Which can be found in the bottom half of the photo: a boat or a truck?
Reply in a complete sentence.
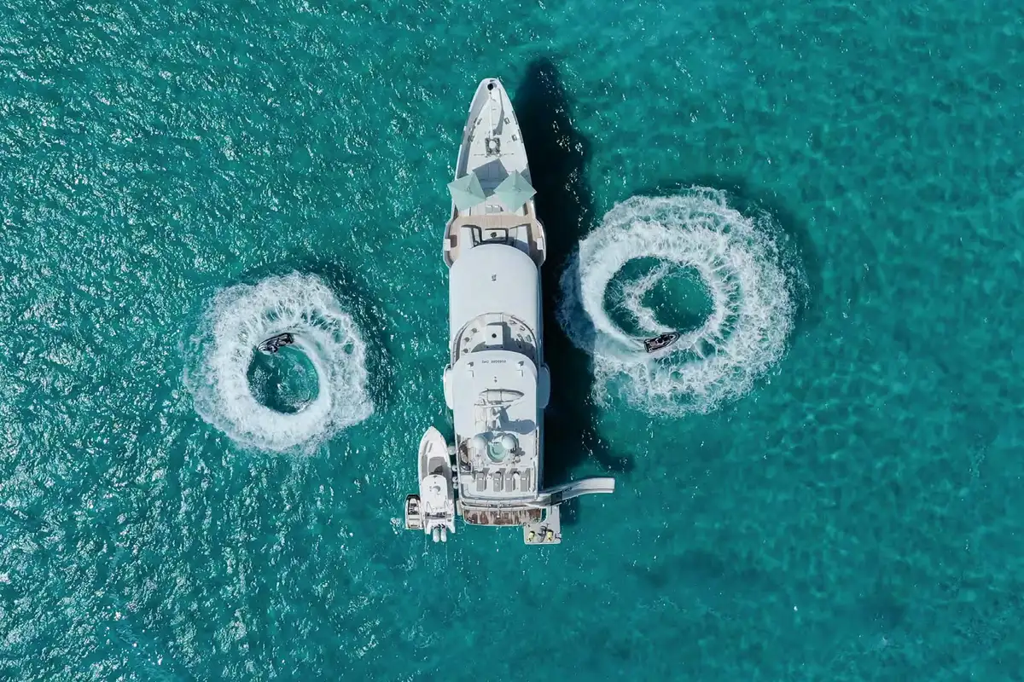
The feature located in the bottom half of the photo is a boat.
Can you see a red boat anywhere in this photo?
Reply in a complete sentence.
No, there appears to be no red boat in this shot.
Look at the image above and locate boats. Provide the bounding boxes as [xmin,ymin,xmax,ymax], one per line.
[418,427,464,543]
[643,334,679,353]
[443,78,550,525]
[406,493,423,529]
[256,335,294,353]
